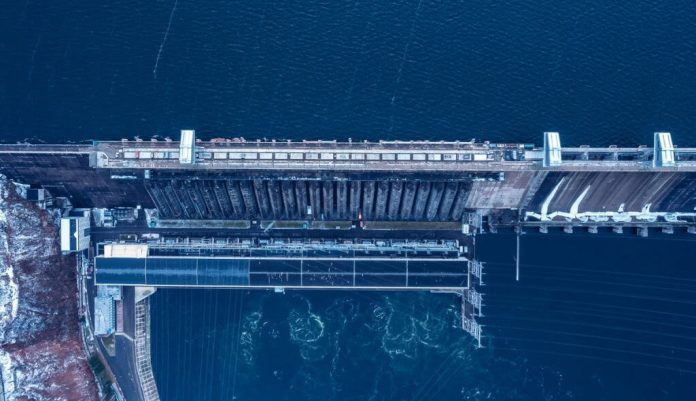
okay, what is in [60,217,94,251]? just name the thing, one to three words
building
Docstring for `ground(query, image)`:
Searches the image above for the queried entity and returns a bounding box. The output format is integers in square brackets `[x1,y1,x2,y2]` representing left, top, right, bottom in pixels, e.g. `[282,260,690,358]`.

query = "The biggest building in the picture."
[94,249,468,289]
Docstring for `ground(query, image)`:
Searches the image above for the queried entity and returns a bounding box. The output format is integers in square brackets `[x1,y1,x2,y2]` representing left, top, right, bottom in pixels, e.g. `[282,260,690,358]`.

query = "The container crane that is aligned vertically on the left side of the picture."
[180,130,197,168]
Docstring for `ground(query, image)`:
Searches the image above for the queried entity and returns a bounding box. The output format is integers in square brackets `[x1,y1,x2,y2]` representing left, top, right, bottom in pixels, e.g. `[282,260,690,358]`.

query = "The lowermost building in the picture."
[94,296,119,334]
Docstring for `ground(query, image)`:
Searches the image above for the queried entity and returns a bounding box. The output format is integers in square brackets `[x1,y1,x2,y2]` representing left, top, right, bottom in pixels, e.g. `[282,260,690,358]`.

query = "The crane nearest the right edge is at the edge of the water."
[652,130,674,168]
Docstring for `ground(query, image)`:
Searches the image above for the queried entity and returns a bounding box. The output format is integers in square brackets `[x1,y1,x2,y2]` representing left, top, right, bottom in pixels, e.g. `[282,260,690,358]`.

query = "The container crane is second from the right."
[544,130,561,168]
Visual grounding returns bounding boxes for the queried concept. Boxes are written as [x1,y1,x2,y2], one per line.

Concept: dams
[0,137,696,235]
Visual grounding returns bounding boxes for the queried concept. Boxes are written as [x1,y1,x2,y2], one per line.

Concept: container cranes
[652,130,674,168]
[180,130,197,168]
[544,130,561,168]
